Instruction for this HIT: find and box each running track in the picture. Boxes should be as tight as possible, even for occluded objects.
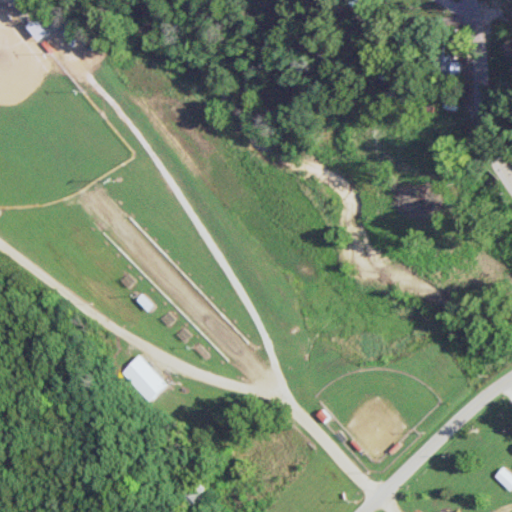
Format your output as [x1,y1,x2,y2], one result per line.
[86,188,274,385]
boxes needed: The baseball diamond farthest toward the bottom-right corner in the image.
[315,367,441,474]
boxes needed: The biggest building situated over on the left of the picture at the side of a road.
[121,354,169,404]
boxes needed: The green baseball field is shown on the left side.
[0,12,135,210]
